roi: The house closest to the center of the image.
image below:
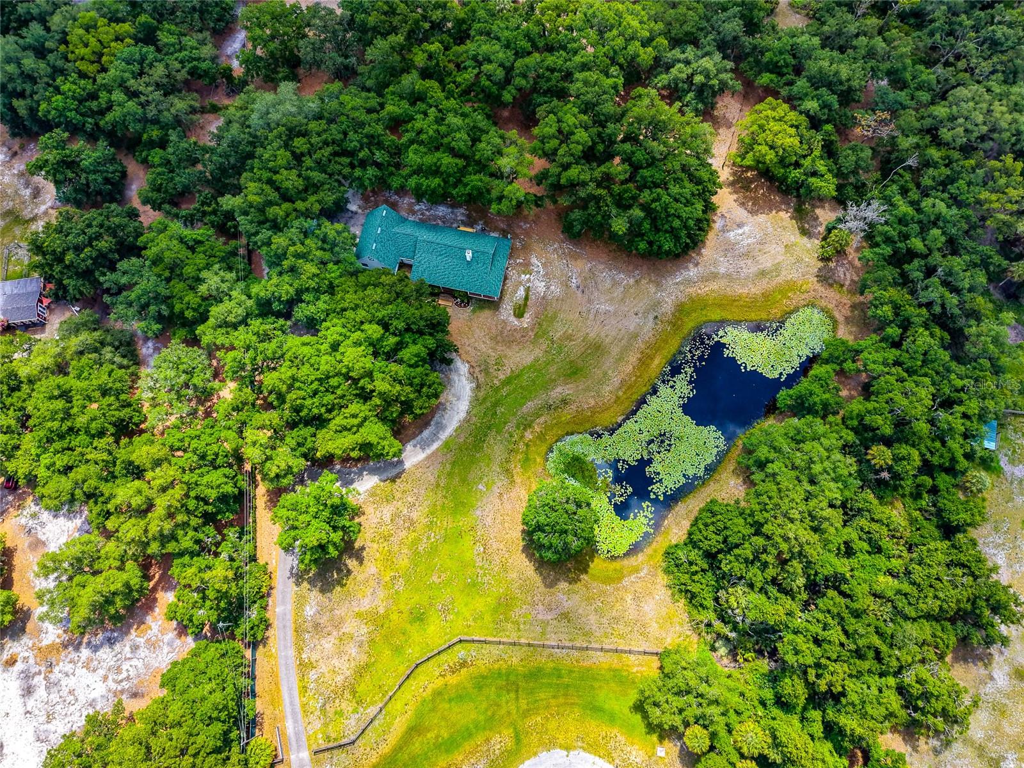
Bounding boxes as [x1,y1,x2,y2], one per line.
[349,203,515,306]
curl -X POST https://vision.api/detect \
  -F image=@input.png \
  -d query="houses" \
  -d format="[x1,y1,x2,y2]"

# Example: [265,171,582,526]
[349,203,515,306]
[0,275,51,339]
